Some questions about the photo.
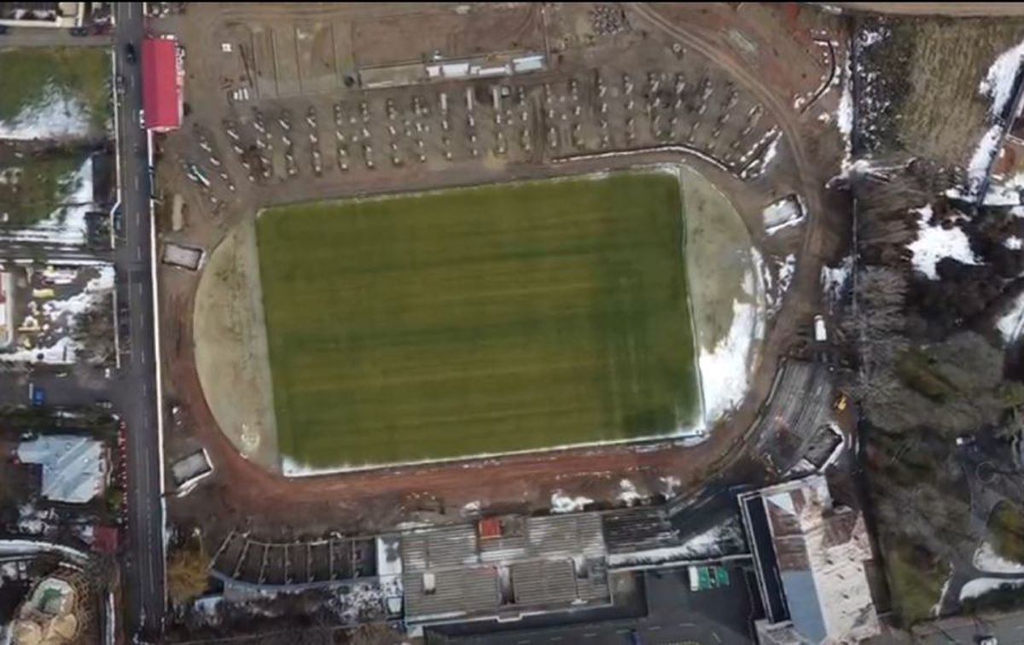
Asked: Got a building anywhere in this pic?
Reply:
Yes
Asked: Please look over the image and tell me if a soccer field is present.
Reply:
Yes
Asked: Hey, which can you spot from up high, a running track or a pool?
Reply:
running track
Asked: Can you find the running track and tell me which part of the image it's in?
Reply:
center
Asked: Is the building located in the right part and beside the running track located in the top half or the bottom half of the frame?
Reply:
bottom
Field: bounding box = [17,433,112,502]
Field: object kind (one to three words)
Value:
house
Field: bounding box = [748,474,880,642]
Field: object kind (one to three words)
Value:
building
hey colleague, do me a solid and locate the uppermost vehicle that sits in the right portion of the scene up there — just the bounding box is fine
[814,316,829,342]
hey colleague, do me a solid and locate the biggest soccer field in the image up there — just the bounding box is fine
[258,168,707,477]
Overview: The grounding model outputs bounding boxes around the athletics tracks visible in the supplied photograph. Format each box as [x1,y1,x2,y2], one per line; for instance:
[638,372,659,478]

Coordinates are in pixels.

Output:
[169,154,799,507]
